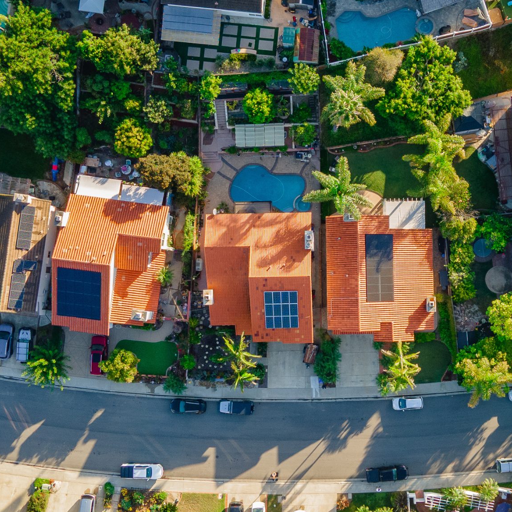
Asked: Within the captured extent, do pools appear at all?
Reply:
Yes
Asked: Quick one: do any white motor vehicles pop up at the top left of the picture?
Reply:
No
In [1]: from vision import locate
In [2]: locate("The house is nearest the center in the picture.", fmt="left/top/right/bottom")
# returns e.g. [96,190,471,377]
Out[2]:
[204,208,318,344]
